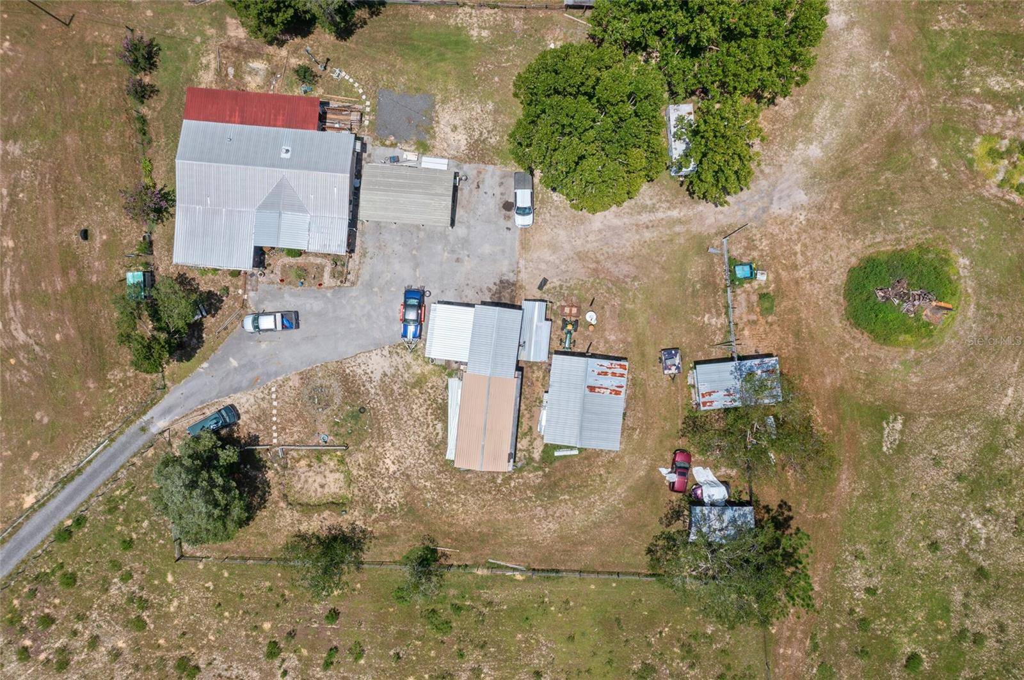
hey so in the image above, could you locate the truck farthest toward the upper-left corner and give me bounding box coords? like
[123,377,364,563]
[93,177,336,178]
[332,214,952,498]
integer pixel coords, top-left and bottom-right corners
[243,311,301,335]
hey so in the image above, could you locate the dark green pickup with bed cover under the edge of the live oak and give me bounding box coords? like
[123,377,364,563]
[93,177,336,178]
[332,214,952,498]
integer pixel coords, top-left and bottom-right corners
[184,403,243,440]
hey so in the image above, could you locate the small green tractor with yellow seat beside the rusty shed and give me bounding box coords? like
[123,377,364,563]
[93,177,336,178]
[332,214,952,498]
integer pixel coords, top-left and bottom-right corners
[560,320,578,353]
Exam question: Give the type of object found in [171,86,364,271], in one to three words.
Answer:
house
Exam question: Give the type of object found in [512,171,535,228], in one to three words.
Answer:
truck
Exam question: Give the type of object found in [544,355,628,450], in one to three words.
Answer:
shed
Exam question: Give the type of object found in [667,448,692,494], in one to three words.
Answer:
car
